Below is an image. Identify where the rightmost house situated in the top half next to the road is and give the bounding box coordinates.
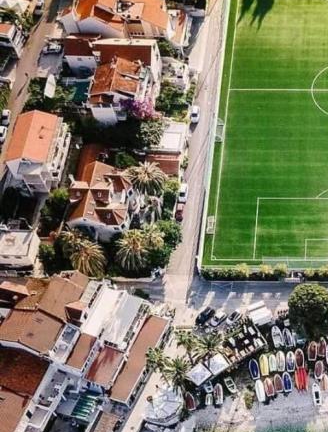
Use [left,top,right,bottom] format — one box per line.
[146,121,189,180]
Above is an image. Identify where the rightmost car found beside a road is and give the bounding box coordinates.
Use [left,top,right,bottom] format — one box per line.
[226,307,241,324]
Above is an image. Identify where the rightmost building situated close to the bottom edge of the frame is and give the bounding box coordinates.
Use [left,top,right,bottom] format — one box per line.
[109,315,172,413]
